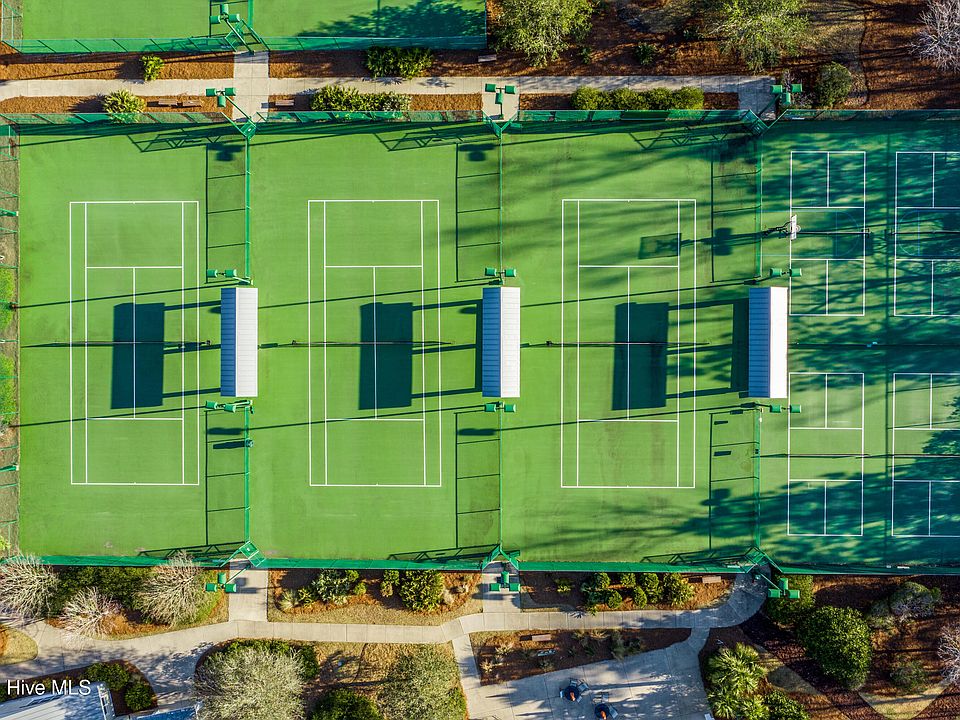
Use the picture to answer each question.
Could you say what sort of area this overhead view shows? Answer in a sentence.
The area seen from above is a sports ground.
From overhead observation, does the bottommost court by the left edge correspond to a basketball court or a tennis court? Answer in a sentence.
The bottommost court by the left edge in the image is a tennis court.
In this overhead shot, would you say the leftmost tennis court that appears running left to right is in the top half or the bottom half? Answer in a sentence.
The top half of the photo is where the leftmost tennis court that appears running left to right is.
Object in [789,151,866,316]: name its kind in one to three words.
sports court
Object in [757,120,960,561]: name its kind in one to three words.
basketball court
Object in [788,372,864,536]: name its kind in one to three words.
sports court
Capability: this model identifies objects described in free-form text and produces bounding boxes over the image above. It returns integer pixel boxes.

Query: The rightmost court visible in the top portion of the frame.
[895,151,960,316]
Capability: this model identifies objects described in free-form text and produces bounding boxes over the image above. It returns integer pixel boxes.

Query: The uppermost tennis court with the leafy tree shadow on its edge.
[248,0,485,52]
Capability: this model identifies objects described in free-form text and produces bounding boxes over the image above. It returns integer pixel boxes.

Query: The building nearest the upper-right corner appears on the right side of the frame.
[749,285,789,398]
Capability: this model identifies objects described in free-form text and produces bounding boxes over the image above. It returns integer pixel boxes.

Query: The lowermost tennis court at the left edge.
[19,124,249,557]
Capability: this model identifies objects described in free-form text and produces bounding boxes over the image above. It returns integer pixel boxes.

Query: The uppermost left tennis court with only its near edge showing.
[22,0,248,54]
